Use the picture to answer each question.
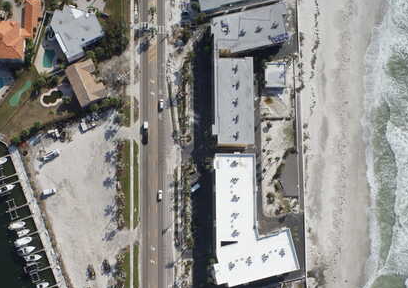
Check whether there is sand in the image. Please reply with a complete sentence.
Yes, there is sand in the image.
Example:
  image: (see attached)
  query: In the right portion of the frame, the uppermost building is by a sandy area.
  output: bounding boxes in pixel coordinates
[210,2,288,59]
